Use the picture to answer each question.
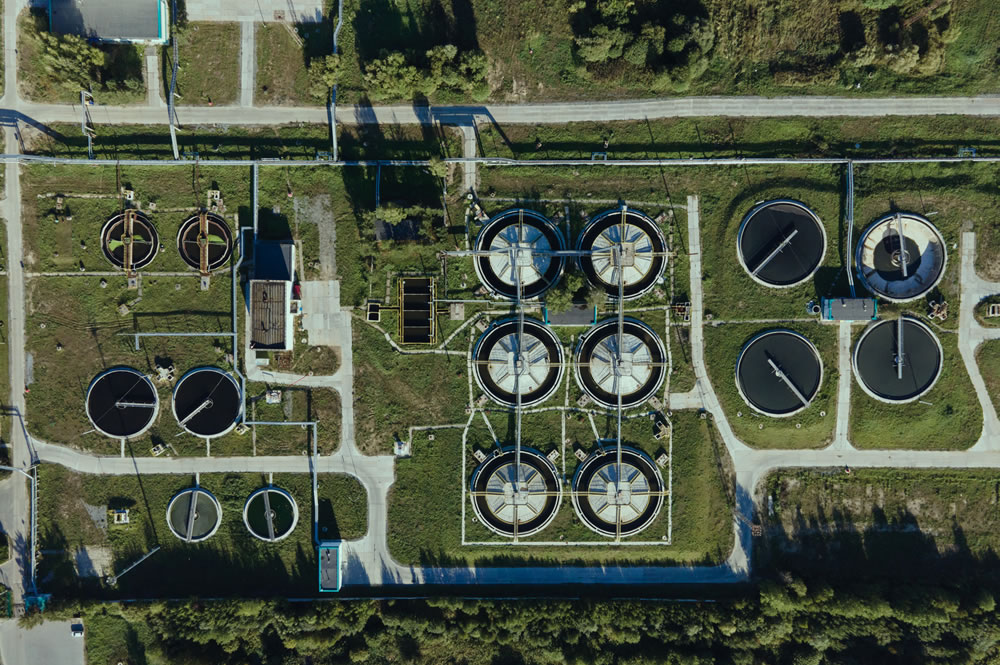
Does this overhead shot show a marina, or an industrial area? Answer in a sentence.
It's an industrial area.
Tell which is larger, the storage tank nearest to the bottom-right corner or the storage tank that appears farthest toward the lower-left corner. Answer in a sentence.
Compared with the storage tank that appears farthest toward the lower-left corner, the storage tank nearest to the bottom-right corner is the larger one.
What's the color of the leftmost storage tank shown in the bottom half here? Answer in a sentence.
The leftmost storage tank shown in the bottom half is black.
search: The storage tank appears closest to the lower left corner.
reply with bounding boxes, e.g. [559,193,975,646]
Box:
[167,486,223,542]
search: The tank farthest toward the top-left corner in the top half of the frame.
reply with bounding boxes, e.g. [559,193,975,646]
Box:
[102,208,160,283]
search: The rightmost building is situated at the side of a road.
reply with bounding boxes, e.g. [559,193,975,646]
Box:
[815,298,877,324]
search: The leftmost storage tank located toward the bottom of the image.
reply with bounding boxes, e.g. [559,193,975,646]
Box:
[88,367,160,438]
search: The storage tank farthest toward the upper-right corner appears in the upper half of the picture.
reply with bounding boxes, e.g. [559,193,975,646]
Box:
[854,213,945,303]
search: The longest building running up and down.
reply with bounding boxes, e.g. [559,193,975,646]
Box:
[248,242,300,349]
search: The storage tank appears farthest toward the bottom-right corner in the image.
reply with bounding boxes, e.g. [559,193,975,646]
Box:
[852,314,940,405]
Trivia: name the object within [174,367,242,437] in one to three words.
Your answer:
storage tank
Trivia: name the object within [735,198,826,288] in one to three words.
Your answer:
storage tank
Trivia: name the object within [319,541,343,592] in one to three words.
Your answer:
building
